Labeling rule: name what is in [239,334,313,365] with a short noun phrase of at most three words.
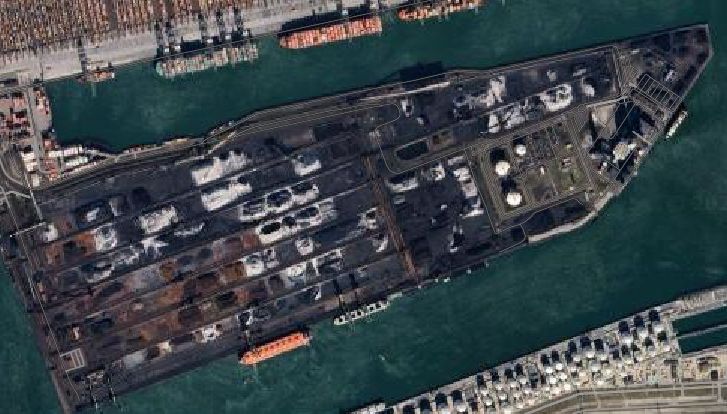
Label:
ship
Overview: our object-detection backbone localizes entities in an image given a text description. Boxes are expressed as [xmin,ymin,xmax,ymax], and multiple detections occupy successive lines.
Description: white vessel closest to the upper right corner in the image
[665,111,689,140]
